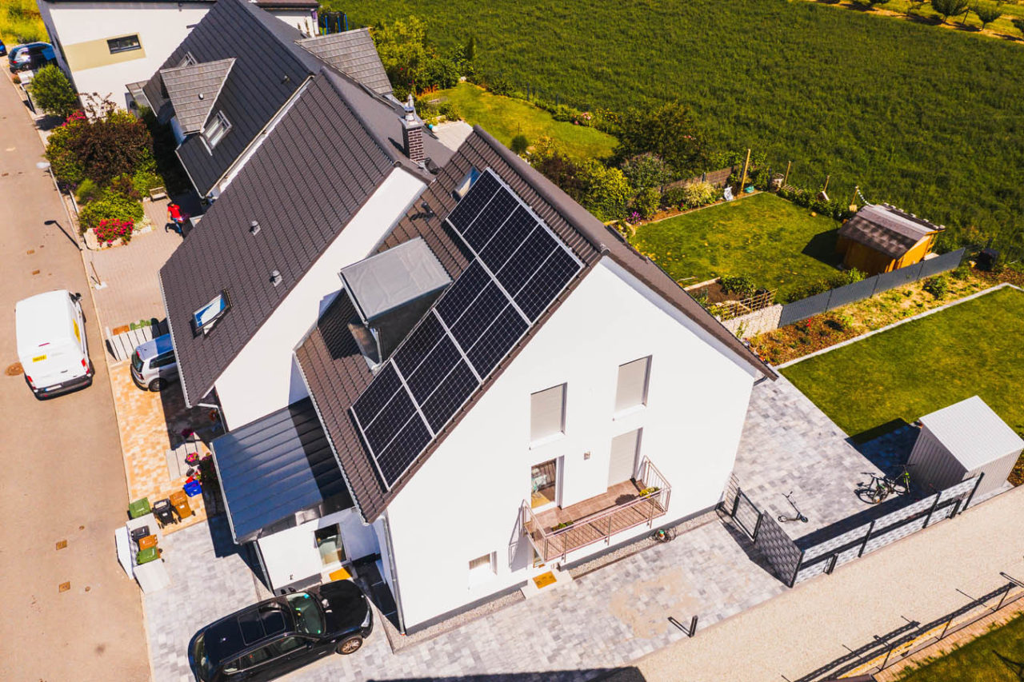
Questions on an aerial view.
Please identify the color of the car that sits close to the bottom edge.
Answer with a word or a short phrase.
black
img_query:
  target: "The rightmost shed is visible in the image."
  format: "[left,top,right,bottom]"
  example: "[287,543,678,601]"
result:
[900,394,1024,497]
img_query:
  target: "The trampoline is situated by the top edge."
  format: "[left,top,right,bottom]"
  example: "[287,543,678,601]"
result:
[315,0,352,31]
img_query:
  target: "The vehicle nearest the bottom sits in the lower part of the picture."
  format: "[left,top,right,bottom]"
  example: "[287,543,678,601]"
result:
[189,571,371,682]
